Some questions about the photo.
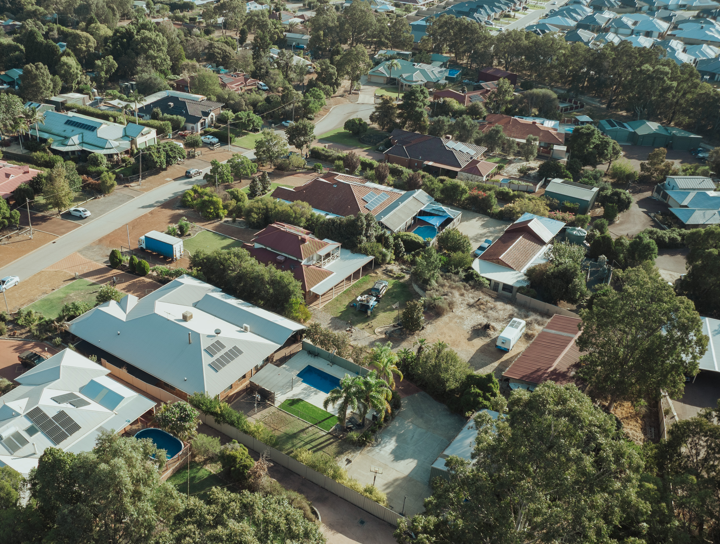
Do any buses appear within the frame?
Yes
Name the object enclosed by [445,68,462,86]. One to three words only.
swimming pool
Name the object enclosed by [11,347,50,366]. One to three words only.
vehicle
